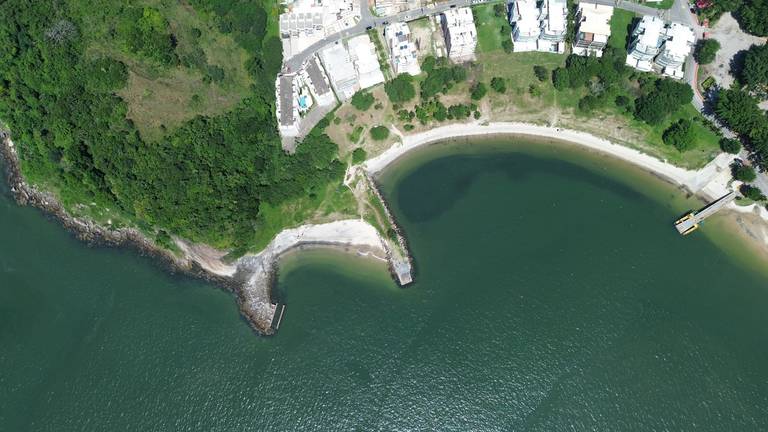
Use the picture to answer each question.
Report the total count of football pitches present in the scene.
zero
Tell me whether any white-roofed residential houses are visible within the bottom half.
No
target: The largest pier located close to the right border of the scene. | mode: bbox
[674,190,736,234]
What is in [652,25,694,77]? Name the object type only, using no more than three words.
house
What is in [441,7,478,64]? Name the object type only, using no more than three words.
building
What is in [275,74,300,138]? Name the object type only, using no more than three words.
building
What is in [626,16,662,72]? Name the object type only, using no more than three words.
house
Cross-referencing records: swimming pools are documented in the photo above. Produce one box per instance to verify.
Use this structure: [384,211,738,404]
[298,94,312,110]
